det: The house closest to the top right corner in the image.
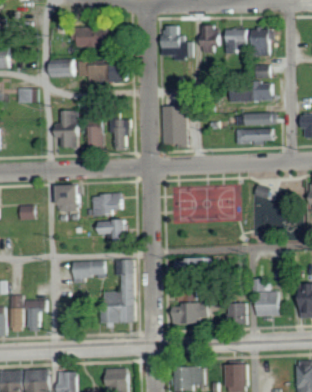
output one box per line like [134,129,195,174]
[248,28,272,56]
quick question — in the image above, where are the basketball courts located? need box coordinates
[173,184,242,224]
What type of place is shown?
residential area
